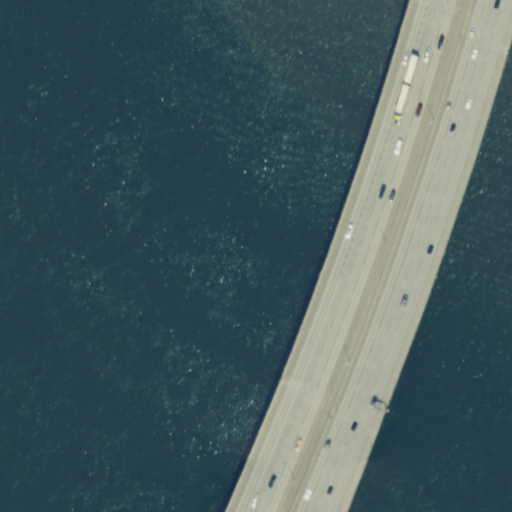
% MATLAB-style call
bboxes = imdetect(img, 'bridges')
[226,0,512,512]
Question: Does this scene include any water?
Yes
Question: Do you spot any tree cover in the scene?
No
